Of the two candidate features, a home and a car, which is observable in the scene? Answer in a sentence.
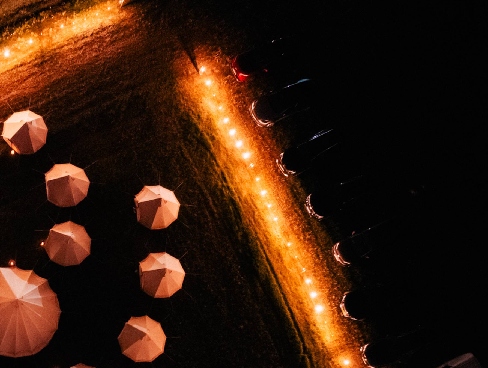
Of the two, only a car appears.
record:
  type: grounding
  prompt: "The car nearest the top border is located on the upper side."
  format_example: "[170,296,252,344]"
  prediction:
[228,38,292,84]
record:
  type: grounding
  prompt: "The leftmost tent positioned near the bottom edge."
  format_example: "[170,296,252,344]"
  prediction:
[0,256,76,366]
